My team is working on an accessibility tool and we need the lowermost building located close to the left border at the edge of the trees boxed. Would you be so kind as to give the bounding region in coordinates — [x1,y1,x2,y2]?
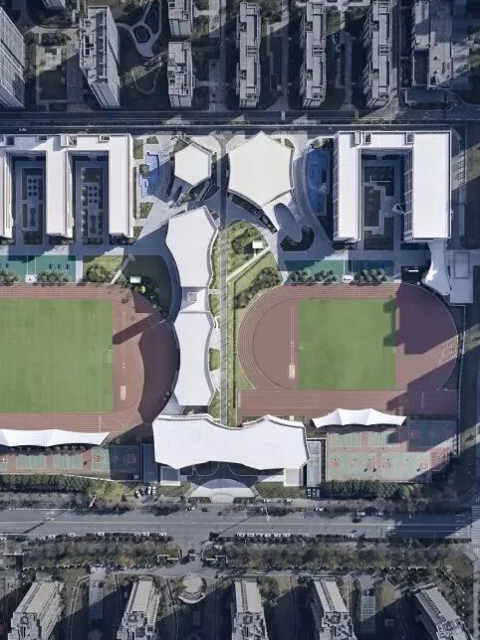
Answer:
[8,582,62,640]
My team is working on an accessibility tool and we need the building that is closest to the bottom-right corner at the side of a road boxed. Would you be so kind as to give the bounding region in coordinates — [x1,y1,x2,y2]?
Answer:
[414,586,477,640]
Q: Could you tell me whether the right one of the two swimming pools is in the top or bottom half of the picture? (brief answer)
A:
top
